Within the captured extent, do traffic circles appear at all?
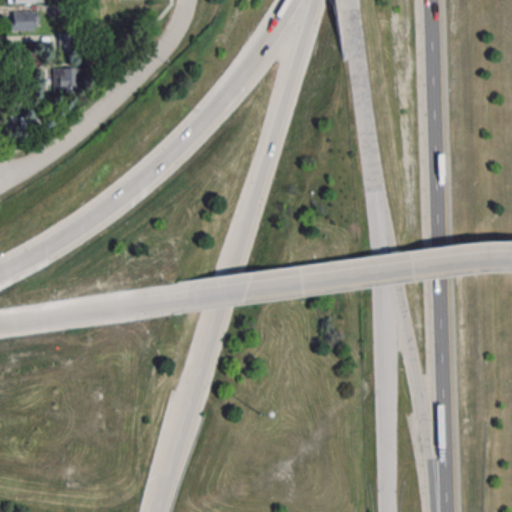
No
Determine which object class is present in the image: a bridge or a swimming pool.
bridge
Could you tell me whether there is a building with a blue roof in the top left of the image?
No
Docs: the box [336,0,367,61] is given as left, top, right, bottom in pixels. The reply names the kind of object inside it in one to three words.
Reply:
bridge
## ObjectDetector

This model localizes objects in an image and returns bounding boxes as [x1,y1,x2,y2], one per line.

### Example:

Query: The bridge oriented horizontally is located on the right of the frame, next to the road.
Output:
[178,241,512,313]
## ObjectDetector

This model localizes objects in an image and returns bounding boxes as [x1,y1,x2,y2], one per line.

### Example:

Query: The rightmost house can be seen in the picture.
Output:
[53,67,78,89]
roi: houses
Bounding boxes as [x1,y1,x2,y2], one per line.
[14,11,40,32]
[53,67,78,89]
[15,0,45,8]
